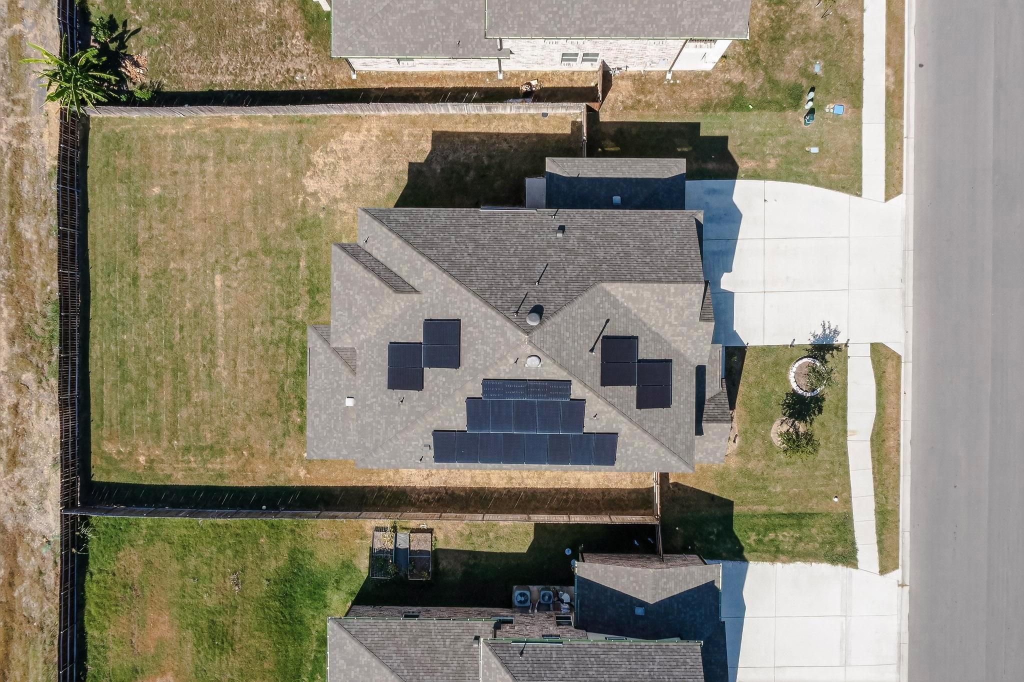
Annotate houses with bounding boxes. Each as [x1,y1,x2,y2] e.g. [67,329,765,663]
[324,548,728,682]
[304,156,731,473]
[317,0,753,76]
